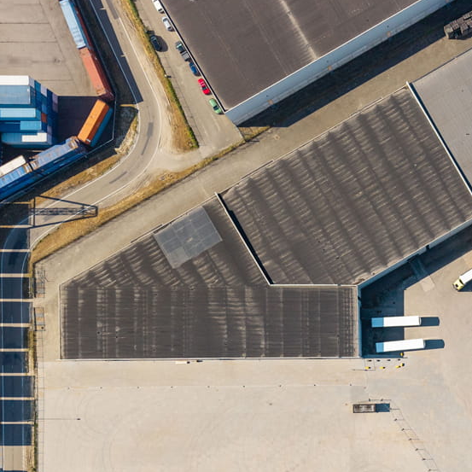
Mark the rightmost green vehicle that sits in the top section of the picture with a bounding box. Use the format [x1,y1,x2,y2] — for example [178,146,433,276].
[209,98,223,115]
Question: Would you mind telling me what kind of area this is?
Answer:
industrial area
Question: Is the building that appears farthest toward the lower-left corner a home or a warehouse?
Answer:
warehouse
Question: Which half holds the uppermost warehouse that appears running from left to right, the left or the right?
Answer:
right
